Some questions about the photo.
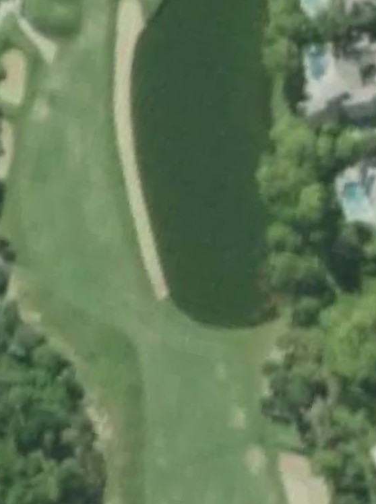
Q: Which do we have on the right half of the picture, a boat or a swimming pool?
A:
swimming pool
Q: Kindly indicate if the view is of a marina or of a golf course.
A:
golf course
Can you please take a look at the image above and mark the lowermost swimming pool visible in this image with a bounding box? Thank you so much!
[337,165,375,227]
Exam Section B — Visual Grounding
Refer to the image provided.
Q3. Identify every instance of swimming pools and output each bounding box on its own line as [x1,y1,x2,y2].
[302,42,333,84]
[337,165,375,227]
[300,0,329,16]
